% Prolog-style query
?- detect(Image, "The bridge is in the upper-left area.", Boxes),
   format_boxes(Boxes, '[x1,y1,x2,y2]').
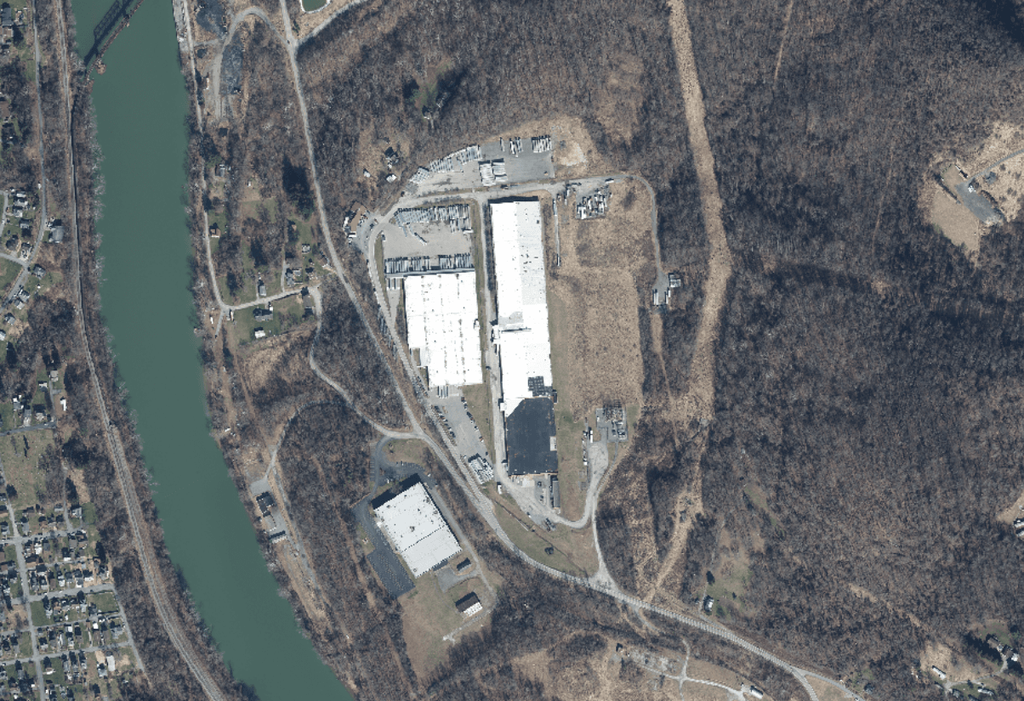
[83,0,142,85]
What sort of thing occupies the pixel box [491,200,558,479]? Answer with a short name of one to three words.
building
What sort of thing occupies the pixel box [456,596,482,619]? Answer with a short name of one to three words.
barn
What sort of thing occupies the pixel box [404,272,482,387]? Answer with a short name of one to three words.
building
